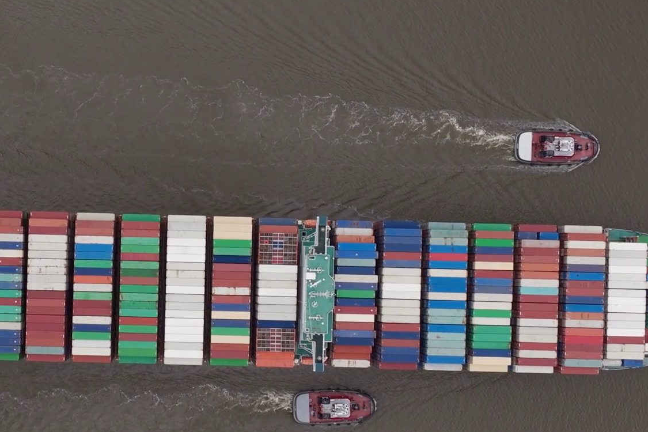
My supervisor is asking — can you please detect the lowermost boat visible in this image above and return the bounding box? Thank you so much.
[291,388,378,427]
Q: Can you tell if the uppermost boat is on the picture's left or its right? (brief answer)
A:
right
